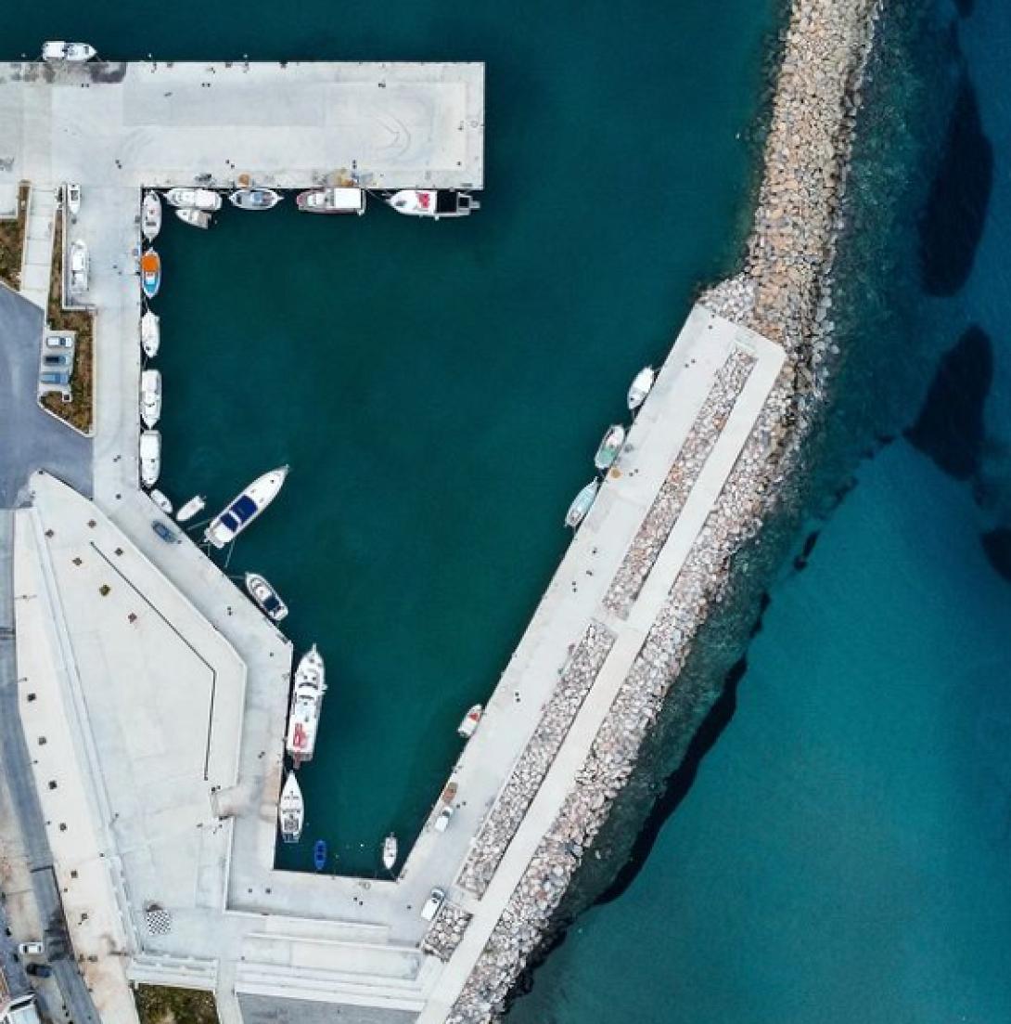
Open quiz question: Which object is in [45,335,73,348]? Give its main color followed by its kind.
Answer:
white vehicle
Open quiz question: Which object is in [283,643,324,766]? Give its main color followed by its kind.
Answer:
white boat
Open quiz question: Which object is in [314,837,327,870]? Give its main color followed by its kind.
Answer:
blue boat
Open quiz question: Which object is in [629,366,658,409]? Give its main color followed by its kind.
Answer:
white boat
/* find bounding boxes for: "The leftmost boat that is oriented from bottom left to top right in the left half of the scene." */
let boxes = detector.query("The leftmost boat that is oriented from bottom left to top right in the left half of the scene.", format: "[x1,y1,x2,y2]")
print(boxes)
[177,495,207,522]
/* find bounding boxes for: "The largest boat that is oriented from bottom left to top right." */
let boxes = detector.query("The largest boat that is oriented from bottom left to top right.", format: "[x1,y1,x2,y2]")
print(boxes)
[205,465,289,551]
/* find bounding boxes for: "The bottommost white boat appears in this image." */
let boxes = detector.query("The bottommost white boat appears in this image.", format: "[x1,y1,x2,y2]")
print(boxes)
[383,834,396,870]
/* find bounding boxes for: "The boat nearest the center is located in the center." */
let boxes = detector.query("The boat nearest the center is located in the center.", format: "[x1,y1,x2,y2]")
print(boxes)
[563,474,599,530]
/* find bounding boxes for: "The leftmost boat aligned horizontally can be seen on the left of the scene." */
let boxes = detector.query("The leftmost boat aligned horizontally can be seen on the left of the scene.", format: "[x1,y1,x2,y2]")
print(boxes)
[40,40,97,62]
